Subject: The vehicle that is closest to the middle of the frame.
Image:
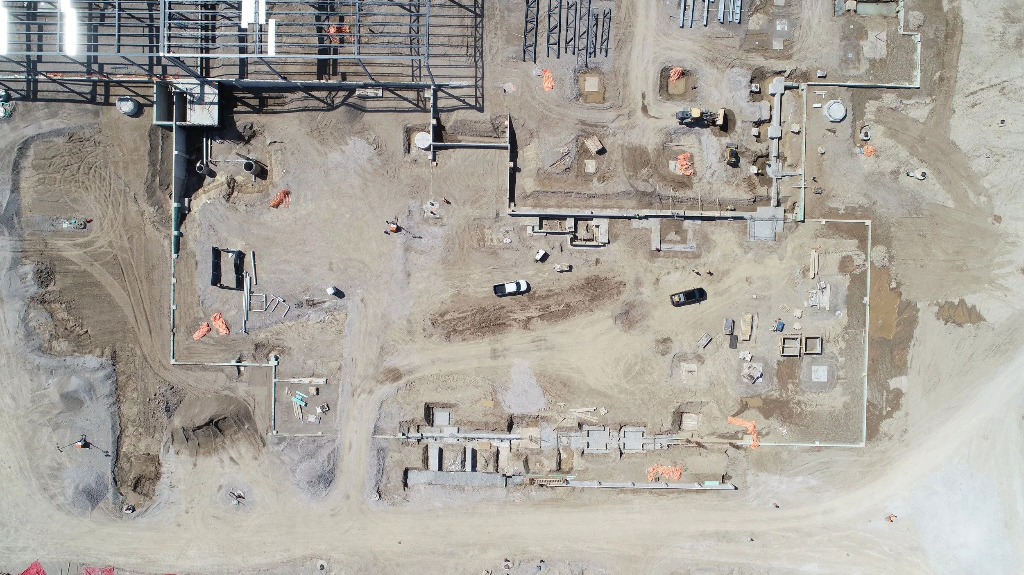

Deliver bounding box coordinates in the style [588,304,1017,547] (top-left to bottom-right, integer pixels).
[492,279,527,296]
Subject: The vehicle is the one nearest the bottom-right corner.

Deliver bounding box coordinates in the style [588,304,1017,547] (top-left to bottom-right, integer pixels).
[671,288,708,307]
